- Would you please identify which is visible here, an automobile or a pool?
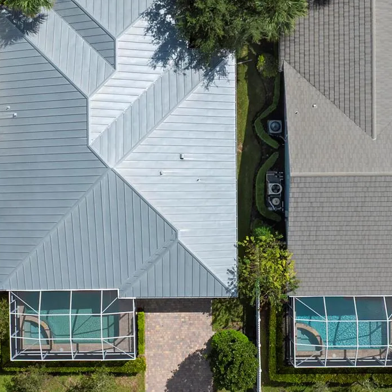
pool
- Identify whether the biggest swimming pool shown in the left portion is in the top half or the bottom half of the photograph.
bottom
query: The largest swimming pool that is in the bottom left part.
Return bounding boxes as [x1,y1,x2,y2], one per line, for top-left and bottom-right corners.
[20,293,123,347]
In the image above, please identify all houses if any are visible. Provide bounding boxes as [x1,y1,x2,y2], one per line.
[0,0,239,298]
[278,0,392,297]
